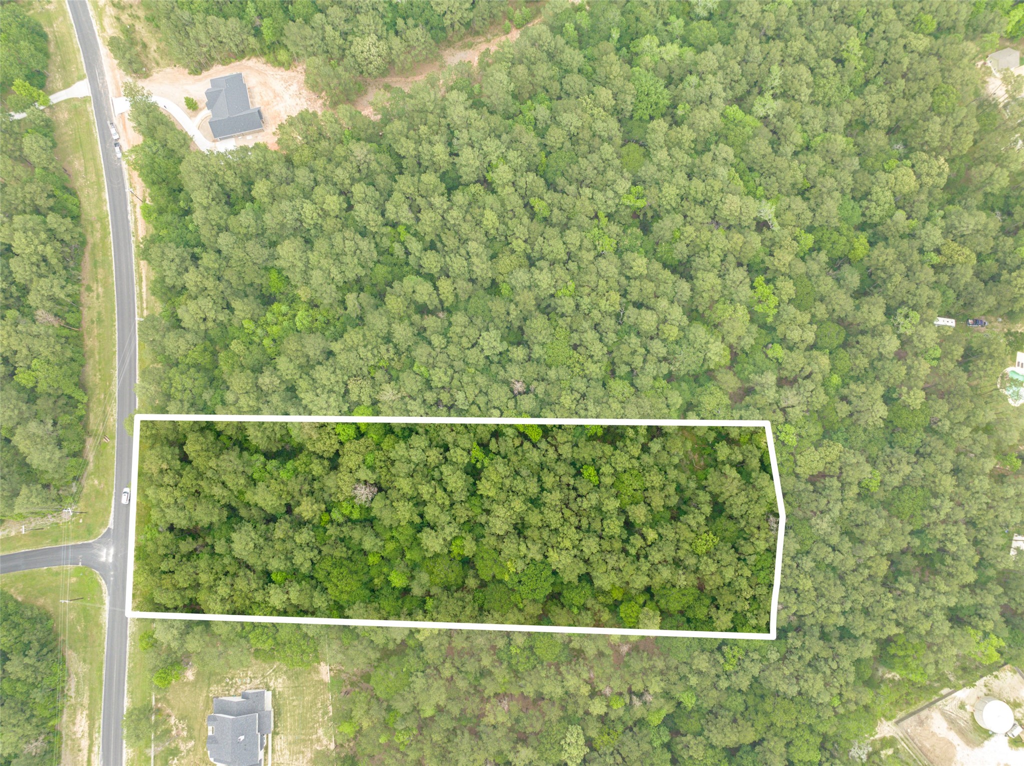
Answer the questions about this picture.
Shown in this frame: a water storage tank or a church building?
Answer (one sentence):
The one in the frame is a water storage tank.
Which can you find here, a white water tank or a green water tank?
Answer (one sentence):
Of the two, only a white water tank appears.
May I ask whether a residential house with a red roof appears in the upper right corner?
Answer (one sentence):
No, looking in the upper right corner, there is no residential house with a red roof.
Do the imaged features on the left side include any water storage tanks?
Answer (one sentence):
No, no water storage tank is visible on the left side.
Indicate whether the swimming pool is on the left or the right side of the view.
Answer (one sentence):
It is on the right.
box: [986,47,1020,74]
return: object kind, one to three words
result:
house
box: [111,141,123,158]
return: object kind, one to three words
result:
vehicle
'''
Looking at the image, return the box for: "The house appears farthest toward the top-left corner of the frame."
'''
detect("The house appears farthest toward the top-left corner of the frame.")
[203,74,266,142]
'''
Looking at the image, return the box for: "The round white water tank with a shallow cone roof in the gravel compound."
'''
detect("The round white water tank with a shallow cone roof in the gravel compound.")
[973,696,1016,735]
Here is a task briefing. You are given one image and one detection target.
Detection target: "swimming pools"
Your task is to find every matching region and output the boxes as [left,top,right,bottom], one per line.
[997,365,1024,408]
